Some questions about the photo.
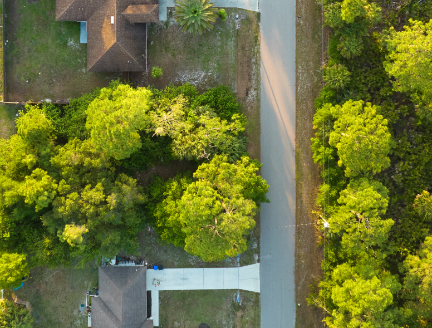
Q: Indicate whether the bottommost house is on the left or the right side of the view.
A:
left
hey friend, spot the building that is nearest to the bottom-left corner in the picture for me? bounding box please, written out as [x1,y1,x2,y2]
[91,264,153,328]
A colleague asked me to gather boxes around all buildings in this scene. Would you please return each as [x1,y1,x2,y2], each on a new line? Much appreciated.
[55,0,160,72]
[91,264,153,328]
